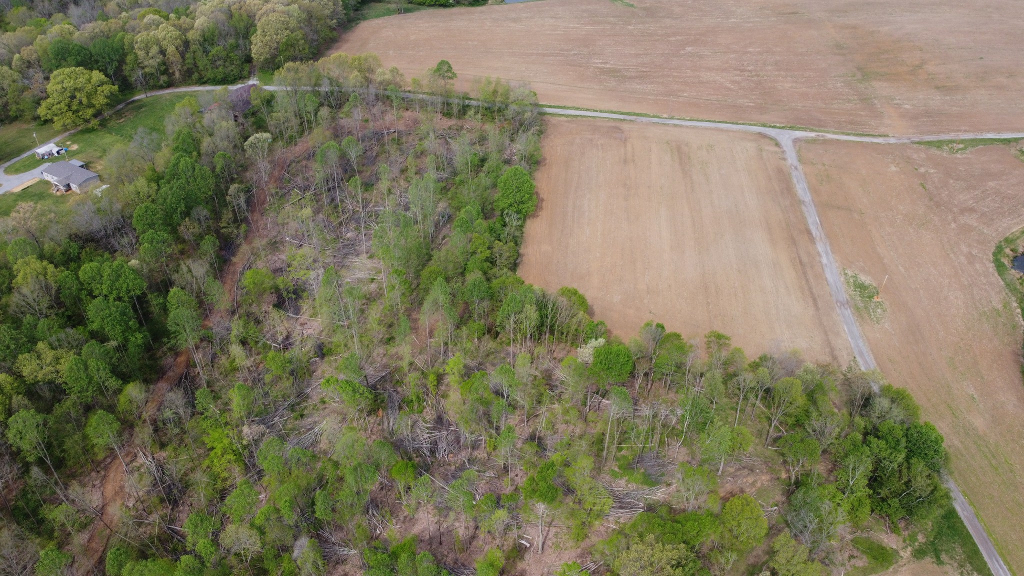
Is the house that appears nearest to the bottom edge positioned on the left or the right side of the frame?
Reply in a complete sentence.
You can find the house that appears nearest to the bottom edge on the left side of the picture.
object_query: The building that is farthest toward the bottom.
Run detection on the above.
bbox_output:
[39,158,109,194]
